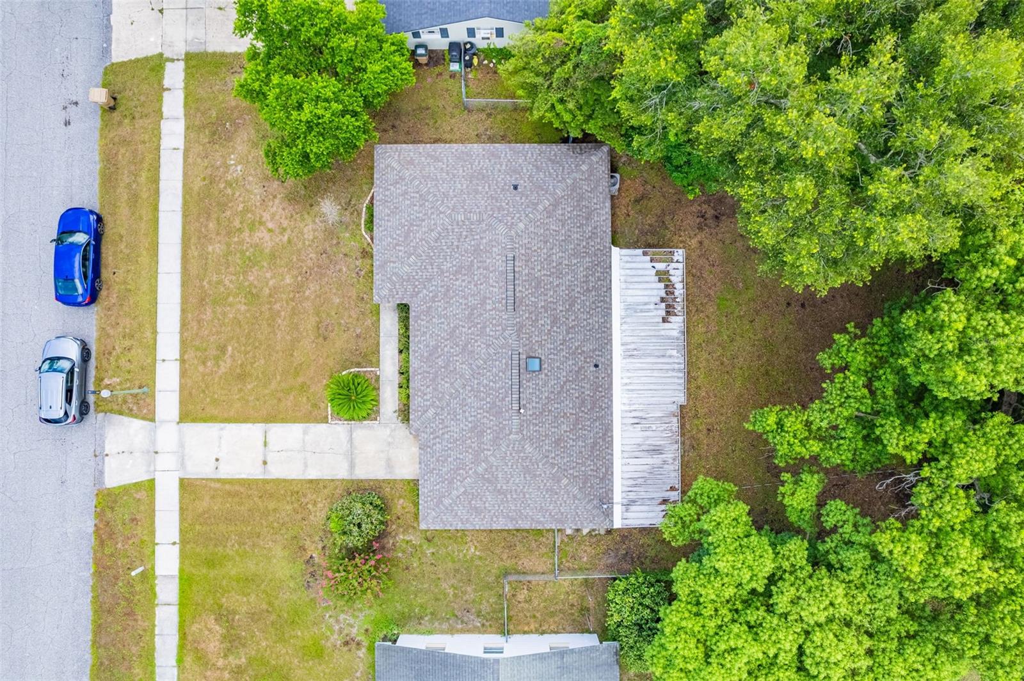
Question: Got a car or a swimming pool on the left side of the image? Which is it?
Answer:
car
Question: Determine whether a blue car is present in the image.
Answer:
Yes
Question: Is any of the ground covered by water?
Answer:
No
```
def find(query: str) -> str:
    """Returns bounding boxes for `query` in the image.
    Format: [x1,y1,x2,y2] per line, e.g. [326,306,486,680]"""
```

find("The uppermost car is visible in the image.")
[48,208,104,306]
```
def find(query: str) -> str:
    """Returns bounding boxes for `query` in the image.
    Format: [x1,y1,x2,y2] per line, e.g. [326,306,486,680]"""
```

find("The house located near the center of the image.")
[372,142,615,531]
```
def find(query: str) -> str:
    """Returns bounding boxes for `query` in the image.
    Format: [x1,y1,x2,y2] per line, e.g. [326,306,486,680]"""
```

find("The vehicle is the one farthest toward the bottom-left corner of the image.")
[33,336,90,428]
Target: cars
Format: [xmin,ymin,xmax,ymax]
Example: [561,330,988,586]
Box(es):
[33,336,90,428]
[48,208,104,306]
